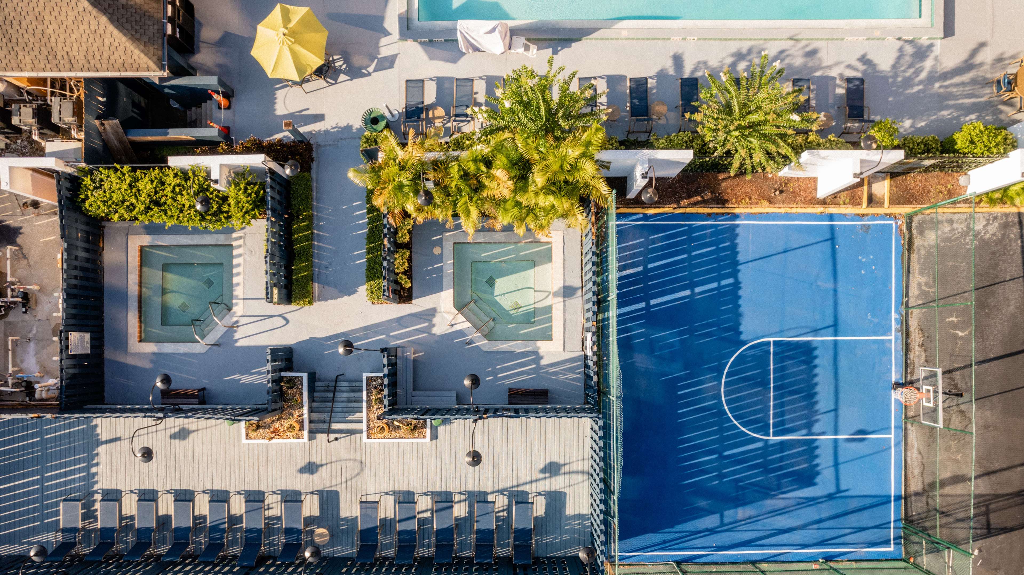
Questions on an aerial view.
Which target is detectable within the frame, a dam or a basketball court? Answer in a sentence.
There is a basketball court in the scene.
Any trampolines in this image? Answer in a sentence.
No, I can see no trampoline in this picture.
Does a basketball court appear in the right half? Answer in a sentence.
Yes, the scene does show a basketball court in the right half.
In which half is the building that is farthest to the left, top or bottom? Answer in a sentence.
The building that is farthest to the left sits in the top half of the picture.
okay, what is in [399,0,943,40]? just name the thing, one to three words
swimming pool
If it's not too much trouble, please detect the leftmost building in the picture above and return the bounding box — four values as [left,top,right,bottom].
[0,0,184,78]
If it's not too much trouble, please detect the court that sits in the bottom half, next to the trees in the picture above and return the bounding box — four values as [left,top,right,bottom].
[596,209,902,561]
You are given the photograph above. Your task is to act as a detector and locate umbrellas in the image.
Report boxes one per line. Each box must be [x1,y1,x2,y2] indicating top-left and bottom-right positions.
[251,3,329,80]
